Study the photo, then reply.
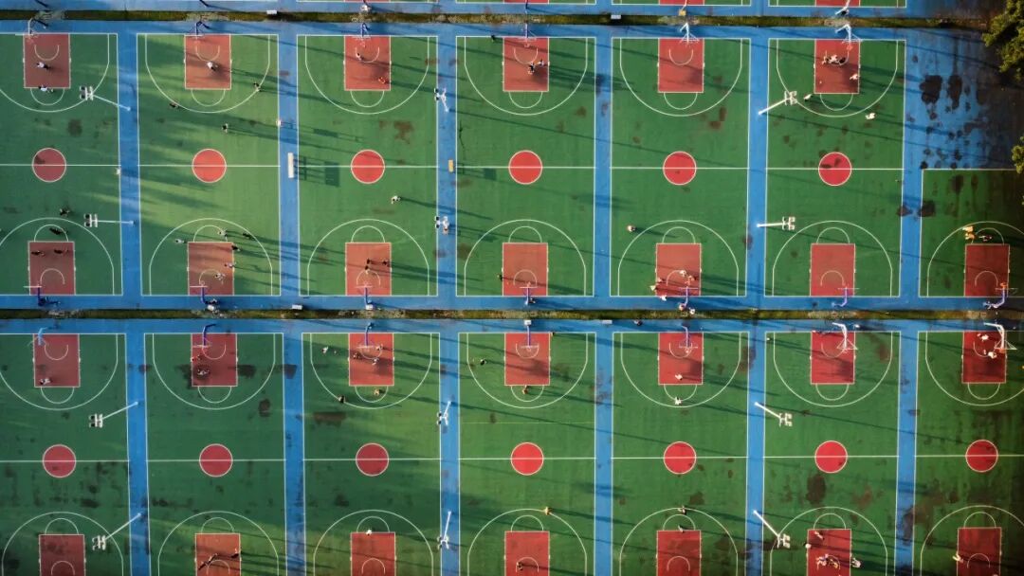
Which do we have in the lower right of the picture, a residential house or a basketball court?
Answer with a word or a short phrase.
basketball court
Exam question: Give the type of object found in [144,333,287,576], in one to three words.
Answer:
basketball court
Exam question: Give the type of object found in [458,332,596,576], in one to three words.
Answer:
basketball court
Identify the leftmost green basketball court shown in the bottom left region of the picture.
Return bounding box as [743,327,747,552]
[0,333,131,576]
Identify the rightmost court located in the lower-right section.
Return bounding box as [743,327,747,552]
[912,331,1024,576]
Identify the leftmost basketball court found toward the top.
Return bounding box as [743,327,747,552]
[0,32,123,296]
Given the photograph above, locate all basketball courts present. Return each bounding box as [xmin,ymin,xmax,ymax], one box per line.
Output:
[297,35,438,296]
[0,333,131,576]
[762,331,901,576]
[769,0,907,7]
[136,33,281,296]
[764,38,906,297]
[609,37,751,297]
[144,333,287,576]
[912,331,1024,576]
[919,169,1024,297]
[612,0,751,6]
[611,331,749,576]
[302,332,442,576]
[456,36,596,297]
[458,332,596,576]
[0,32,123,296]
